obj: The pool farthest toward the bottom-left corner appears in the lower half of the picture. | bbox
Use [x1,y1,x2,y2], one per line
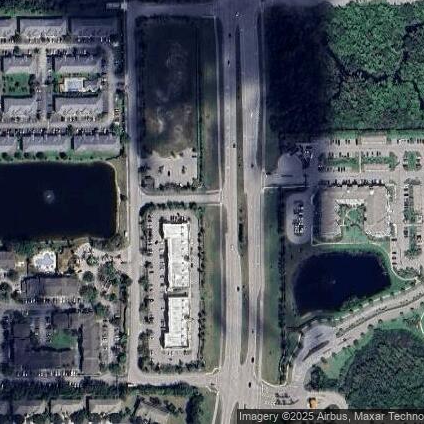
[36,253,56,270]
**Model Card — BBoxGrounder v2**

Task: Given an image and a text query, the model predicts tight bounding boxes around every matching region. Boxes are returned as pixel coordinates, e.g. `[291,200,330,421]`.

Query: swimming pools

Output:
[65,78,83,91]
[36,253,56,270]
